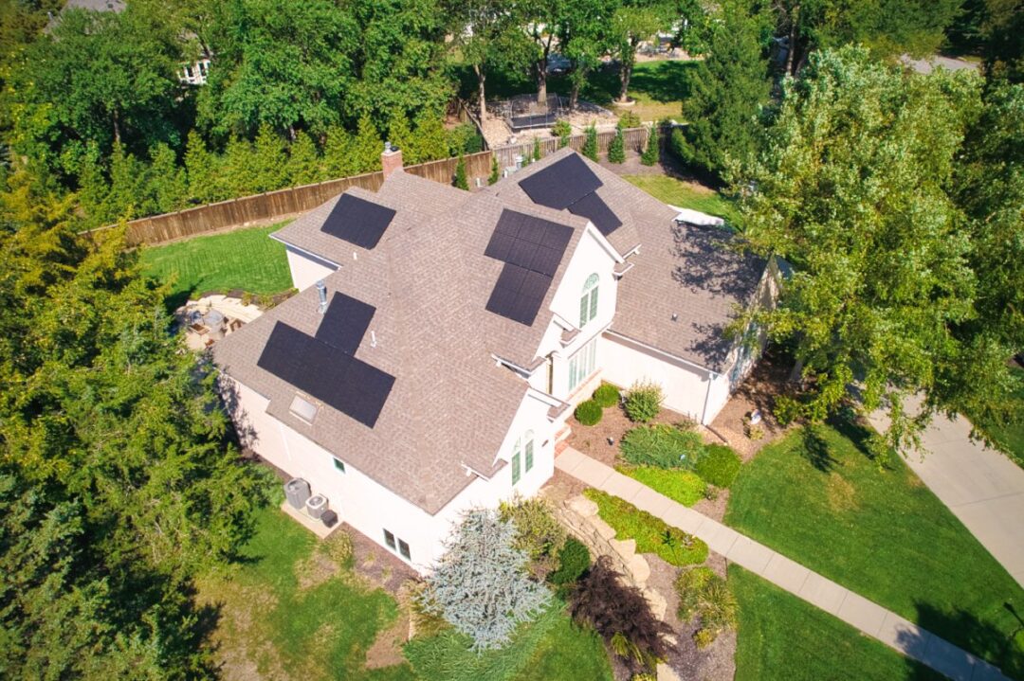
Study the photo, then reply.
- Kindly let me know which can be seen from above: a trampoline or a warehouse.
trampoline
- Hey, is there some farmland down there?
No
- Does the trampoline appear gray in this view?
Yes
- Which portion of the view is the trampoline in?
top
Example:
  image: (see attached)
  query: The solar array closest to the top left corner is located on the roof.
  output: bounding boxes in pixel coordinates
[319,191,394,247]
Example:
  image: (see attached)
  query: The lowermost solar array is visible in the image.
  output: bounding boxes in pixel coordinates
[254,290,393,426]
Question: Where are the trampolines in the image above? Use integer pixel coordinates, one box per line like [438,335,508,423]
[508,95,566,136]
